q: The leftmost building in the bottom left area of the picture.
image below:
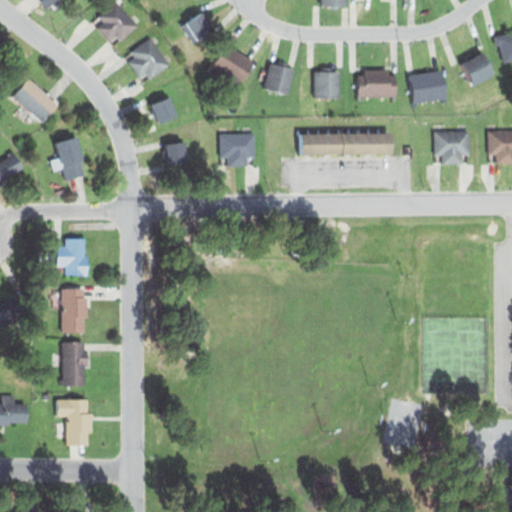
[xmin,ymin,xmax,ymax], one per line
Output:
[0,395,31,424]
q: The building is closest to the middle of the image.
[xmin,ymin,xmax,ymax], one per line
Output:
[217,134,255,167]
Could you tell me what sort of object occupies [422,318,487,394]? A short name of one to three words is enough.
sports court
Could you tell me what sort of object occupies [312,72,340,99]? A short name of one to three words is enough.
house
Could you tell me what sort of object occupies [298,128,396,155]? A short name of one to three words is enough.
building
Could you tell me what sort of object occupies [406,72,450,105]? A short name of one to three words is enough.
house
